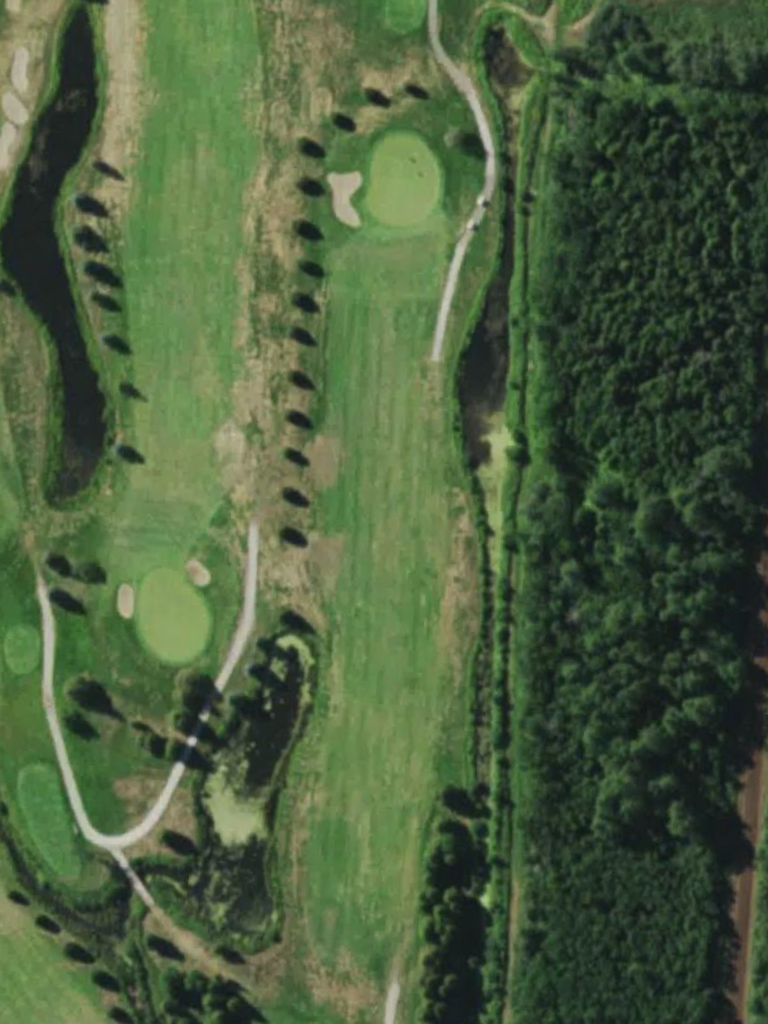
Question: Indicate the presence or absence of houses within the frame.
No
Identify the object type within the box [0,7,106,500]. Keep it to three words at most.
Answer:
pond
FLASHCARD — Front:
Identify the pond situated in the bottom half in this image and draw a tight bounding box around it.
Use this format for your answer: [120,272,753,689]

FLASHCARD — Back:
[204,634,316,850]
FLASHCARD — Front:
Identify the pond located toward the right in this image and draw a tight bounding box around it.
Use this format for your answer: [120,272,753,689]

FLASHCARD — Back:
[457,29,529,595]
